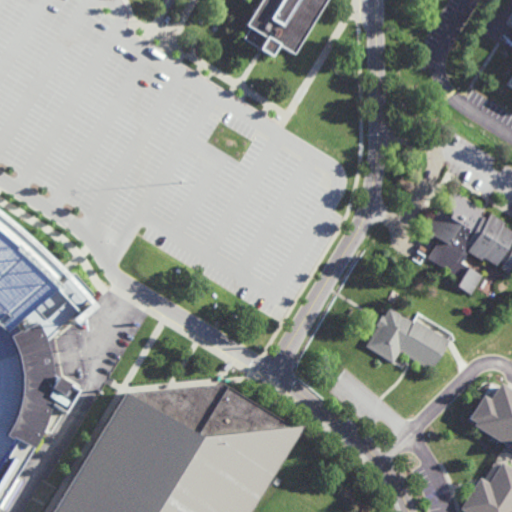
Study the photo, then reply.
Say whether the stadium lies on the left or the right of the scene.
left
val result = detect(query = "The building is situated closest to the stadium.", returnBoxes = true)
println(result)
[54,384,304,512]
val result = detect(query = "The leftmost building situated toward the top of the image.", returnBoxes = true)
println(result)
[246,0,330,58]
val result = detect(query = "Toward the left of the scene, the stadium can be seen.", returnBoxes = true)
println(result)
[0,208,100,512]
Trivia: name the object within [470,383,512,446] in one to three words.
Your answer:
house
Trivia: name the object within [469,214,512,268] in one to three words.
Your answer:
house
